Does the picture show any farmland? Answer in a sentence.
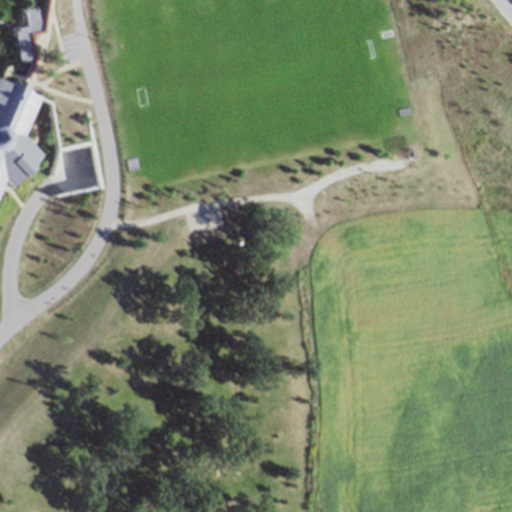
Yes, farmland shows up in the scene.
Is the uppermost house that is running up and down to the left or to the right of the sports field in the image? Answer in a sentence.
To the left of the sports field is where the uppermost house that is running up and down appears.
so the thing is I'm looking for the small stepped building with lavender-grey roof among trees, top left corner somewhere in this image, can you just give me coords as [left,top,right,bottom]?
[16,8,42,62]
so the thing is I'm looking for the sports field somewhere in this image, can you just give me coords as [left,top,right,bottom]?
[94,0,410,186]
